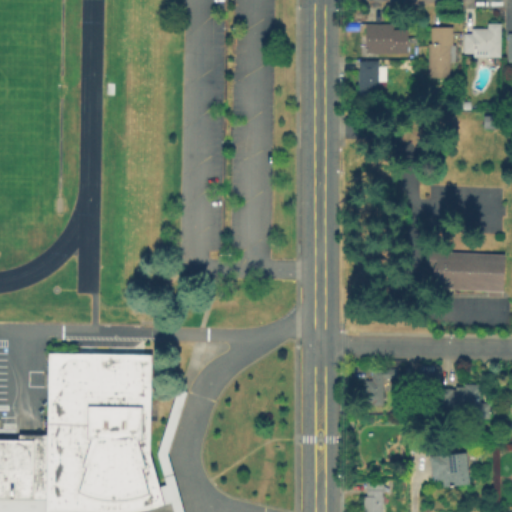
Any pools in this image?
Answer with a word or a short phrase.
Yes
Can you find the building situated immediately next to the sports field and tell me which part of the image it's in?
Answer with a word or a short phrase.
bottom left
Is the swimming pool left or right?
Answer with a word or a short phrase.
right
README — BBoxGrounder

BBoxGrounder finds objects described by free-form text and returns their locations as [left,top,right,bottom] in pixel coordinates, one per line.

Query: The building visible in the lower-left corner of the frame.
[0,354,165,512]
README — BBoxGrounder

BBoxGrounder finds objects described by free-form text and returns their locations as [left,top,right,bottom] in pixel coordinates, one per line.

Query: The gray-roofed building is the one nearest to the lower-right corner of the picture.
[430,454,470,488]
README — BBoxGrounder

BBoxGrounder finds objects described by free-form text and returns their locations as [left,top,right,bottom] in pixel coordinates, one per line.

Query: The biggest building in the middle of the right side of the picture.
[432,252,506,296]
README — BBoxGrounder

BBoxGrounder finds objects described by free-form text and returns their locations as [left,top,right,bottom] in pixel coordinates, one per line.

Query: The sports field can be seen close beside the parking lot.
[0,0,82,272]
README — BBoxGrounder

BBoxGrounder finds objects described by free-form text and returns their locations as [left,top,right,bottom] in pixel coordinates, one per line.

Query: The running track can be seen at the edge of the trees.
[0,0,105,294]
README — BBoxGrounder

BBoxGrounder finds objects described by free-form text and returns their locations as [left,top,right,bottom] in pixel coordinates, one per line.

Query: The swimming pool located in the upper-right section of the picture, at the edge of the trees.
[473,62,499,96]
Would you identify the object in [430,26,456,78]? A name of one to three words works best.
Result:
house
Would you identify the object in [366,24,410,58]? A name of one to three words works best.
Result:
house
